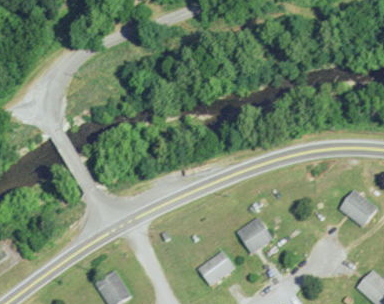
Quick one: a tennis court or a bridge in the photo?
bridge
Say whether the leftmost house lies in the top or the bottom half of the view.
bottom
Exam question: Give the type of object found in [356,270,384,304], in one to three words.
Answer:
house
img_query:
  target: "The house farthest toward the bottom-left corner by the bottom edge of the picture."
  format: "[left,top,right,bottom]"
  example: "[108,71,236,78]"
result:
[96,270,132,304]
